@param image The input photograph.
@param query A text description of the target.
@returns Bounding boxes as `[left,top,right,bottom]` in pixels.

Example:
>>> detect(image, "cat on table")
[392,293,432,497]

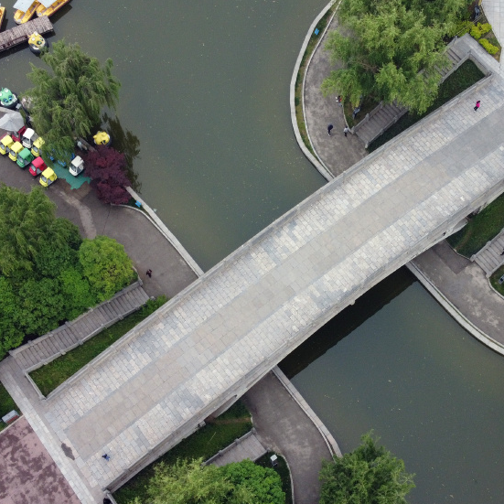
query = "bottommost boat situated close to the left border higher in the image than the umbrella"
[0,91,18,109]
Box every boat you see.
[38,0,72,18]
[13,0,43,24]
[0,91,18,109]
[91,133,112,151]
[26,36,48,56]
